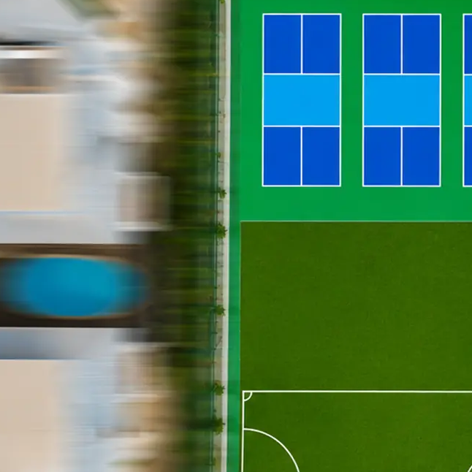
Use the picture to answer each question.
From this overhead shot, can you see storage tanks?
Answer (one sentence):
No, there appears to be no storage tank in this shot.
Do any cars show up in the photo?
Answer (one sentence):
No, no car can be seen from above.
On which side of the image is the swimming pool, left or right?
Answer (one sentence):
You can find the swimming pool on the left side of the picture.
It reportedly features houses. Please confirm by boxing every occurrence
[0,0,150,244]
[0,328,150,472]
